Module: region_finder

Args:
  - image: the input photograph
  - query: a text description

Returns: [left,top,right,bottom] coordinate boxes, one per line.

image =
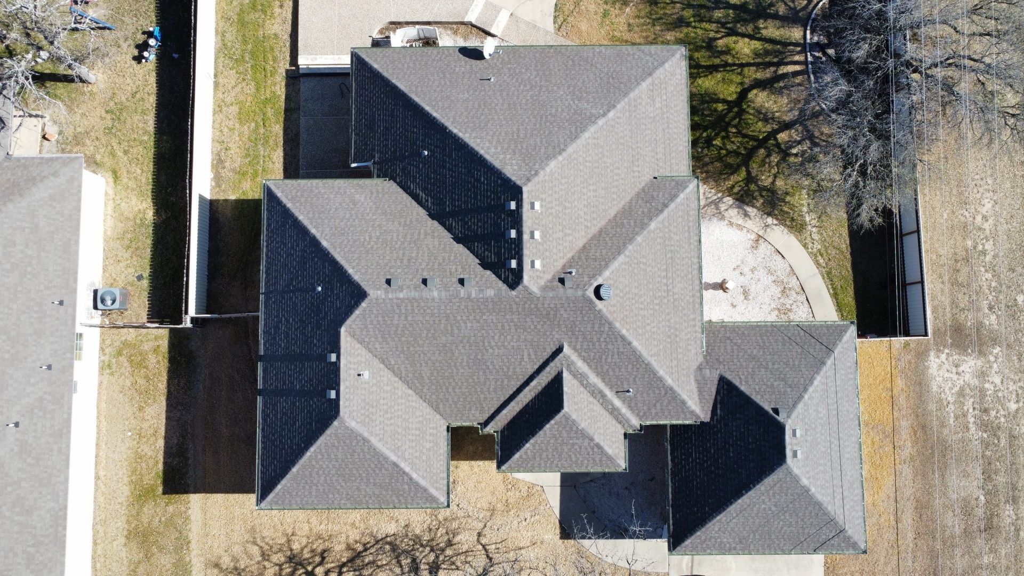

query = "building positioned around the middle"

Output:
[253,42,869,558]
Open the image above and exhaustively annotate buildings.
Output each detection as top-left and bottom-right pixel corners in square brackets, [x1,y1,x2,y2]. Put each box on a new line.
[0,93,105,576]
[253,42,869,558]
